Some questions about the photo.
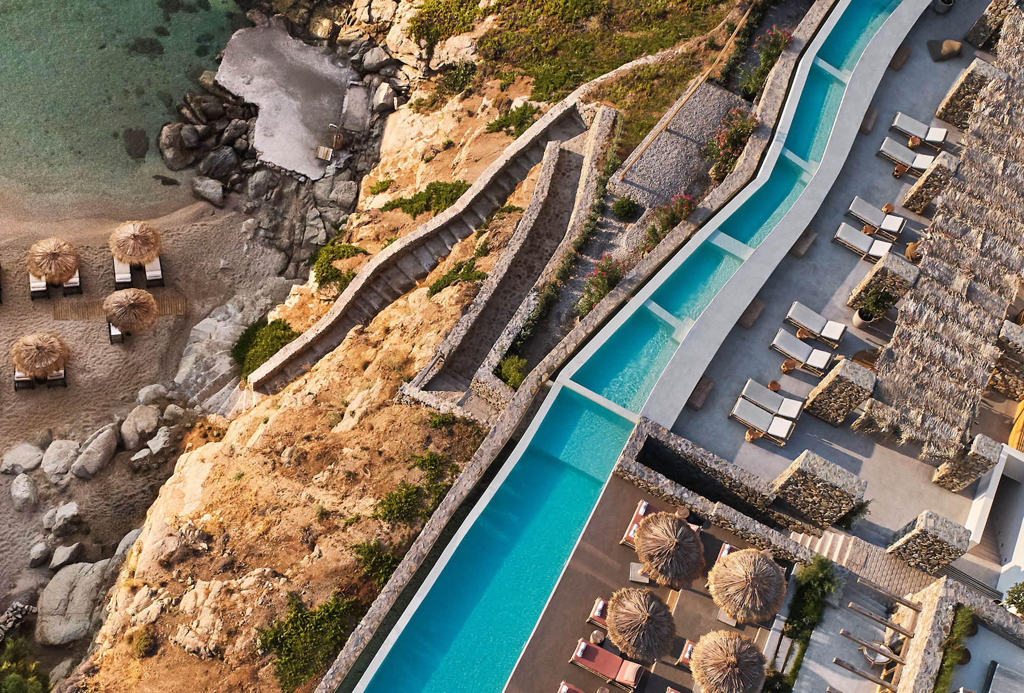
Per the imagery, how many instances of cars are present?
0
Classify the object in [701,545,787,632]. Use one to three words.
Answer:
umbrella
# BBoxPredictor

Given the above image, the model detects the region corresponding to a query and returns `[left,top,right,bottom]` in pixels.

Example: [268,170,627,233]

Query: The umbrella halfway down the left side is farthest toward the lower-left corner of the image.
[8,330,75,384]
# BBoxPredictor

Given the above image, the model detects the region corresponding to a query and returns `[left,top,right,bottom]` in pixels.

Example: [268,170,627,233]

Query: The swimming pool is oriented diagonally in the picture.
[352,0,932,693]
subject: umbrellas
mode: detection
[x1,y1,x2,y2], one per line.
[8,330,75,384]
[684,624,771,693]
[600,588,677,666]
[108,223,164,269]
[26,239,83,288]
[101,288,161,337]
[632,517,706,589]
[701,545,787,632]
